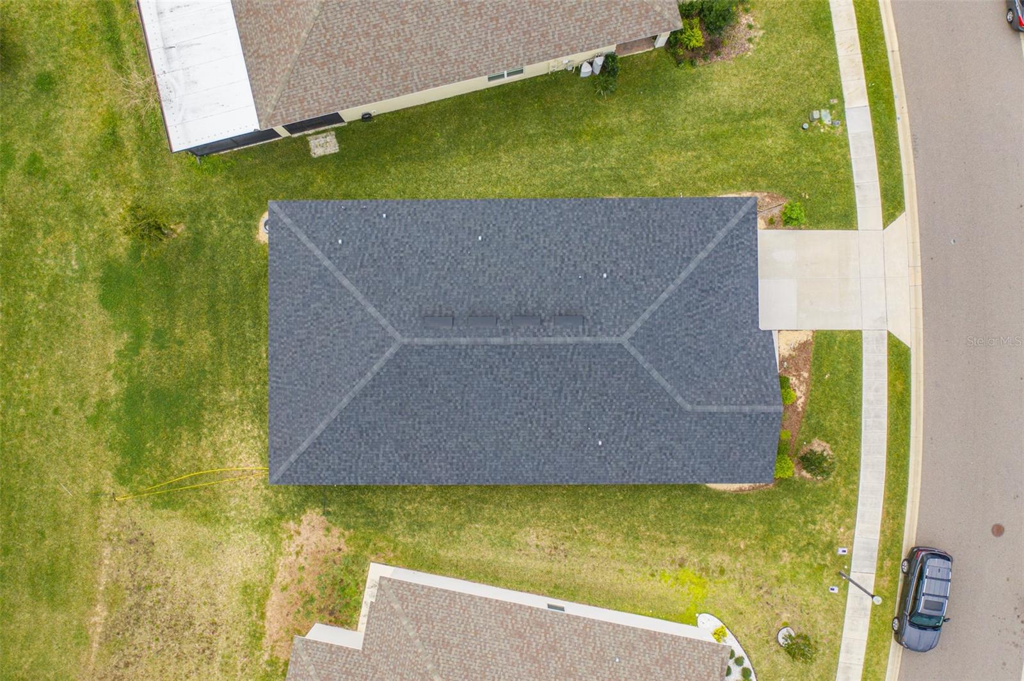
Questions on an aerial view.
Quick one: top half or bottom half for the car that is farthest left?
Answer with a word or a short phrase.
bottom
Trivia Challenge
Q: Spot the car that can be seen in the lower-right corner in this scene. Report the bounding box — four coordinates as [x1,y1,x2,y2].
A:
[889,544,955,654]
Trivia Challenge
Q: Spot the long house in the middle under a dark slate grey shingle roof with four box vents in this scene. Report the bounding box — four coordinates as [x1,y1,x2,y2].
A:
[267,196,783,485]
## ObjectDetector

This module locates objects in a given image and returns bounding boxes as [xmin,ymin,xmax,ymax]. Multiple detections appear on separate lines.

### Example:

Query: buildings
[133,0,683,168]
[285,565,730,681]
[267,196,783,485]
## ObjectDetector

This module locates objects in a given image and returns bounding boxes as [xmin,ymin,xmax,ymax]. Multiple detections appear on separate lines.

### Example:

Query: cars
[889,544,955,654]
[1004,0,1024,38]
